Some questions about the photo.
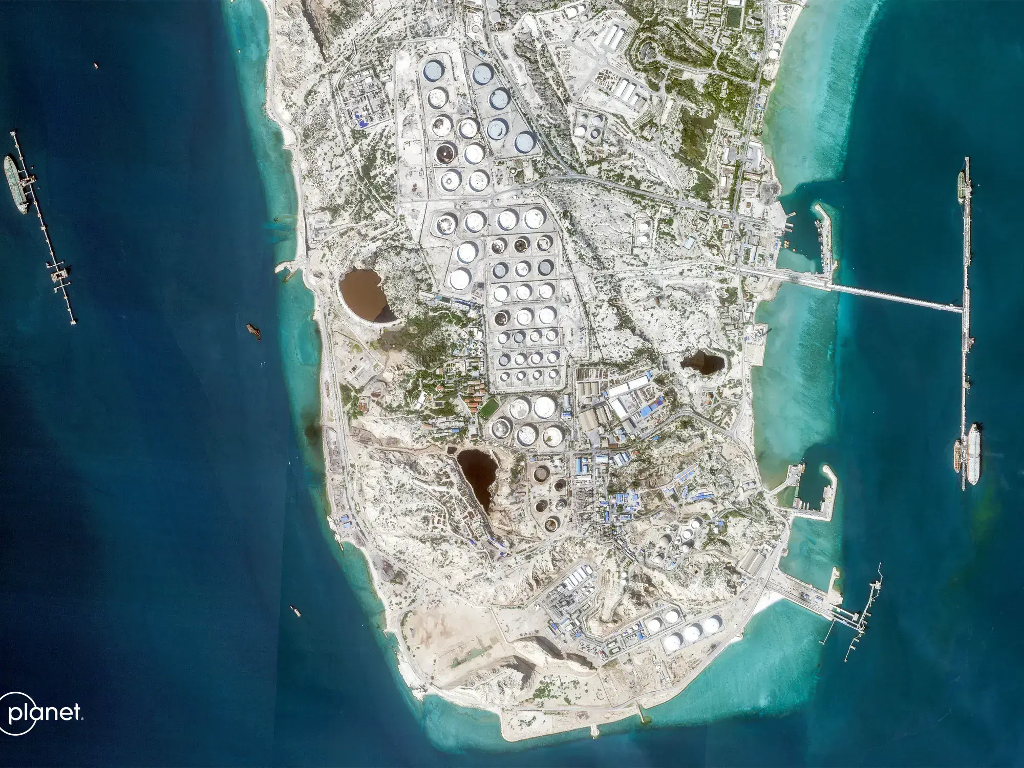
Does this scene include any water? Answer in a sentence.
Yes, there's water in this view.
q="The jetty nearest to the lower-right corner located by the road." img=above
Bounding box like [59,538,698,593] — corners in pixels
[819,563,883,661]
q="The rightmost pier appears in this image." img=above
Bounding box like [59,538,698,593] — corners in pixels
[960,156,972,491]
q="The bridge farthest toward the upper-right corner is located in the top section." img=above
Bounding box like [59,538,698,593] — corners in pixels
[832,286,963,313]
